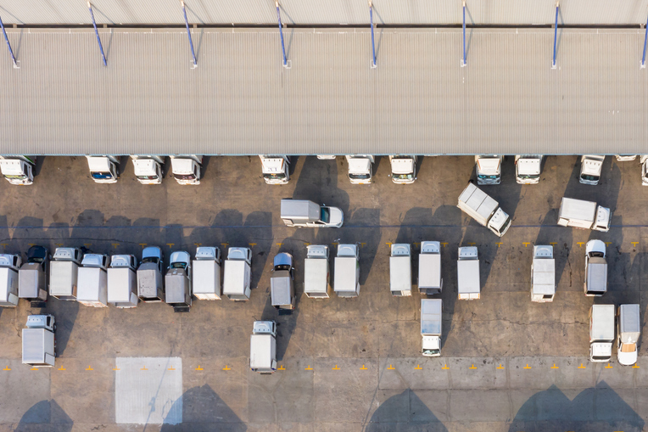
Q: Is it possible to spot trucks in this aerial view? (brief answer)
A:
Yes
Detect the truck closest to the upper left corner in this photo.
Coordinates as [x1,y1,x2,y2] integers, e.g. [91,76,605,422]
[0,156,34,186]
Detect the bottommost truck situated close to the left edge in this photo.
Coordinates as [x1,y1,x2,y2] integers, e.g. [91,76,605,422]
[20,313,60,369]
